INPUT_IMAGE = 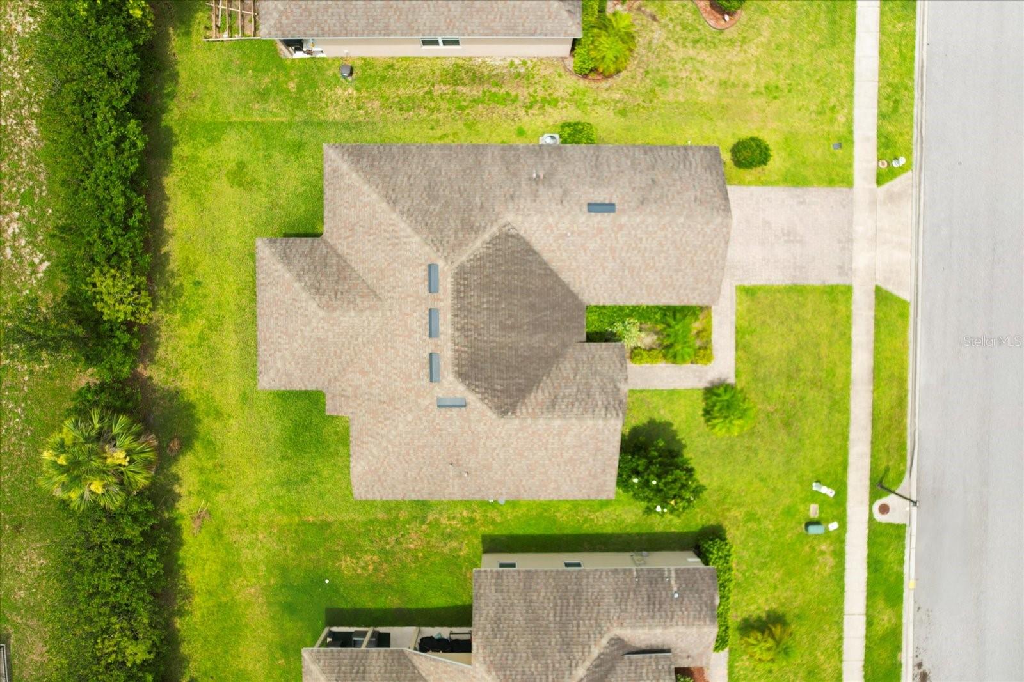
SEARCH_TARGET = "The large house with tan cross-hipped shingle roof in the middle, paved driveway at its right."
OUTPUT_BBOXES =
[257,145,732,500]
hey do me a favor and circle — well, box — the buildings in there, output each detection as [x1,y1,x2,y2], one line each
[302,551,722,682]
[257,145,732,500]
[259,0,581,58]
